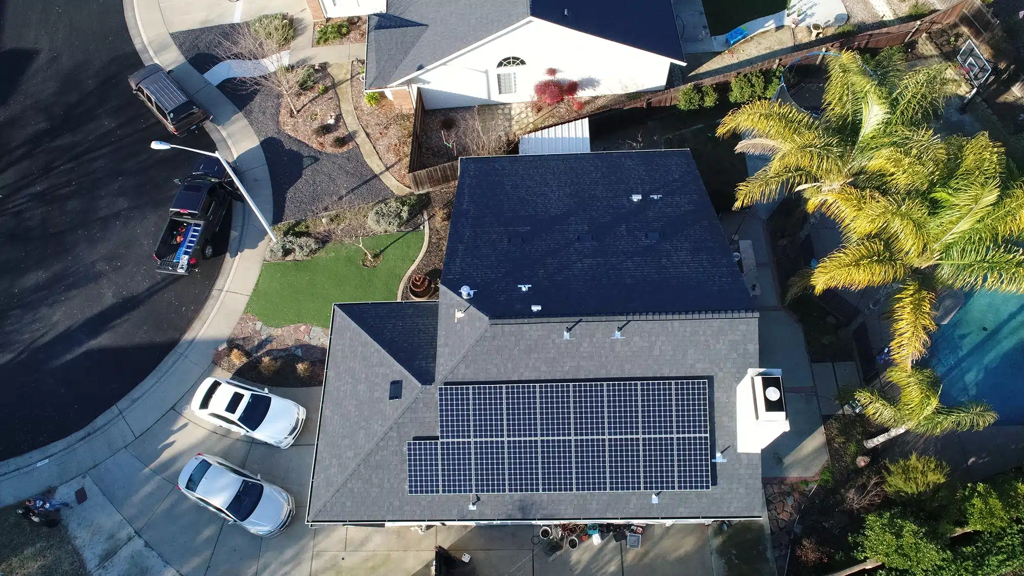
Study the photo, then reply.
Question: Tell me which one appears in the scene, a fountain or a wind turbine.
fountain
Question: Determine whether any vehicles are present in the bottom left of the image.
Yes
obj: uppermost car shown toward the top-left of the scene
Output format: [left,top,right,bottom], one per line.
[131,64,215,144]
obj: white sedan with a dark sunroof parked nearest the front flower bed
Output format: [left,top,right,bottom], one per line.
[189,386,307,455]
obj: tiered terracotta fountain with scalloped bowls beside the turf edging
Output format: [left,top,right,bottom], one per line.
[405,272,434,298]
